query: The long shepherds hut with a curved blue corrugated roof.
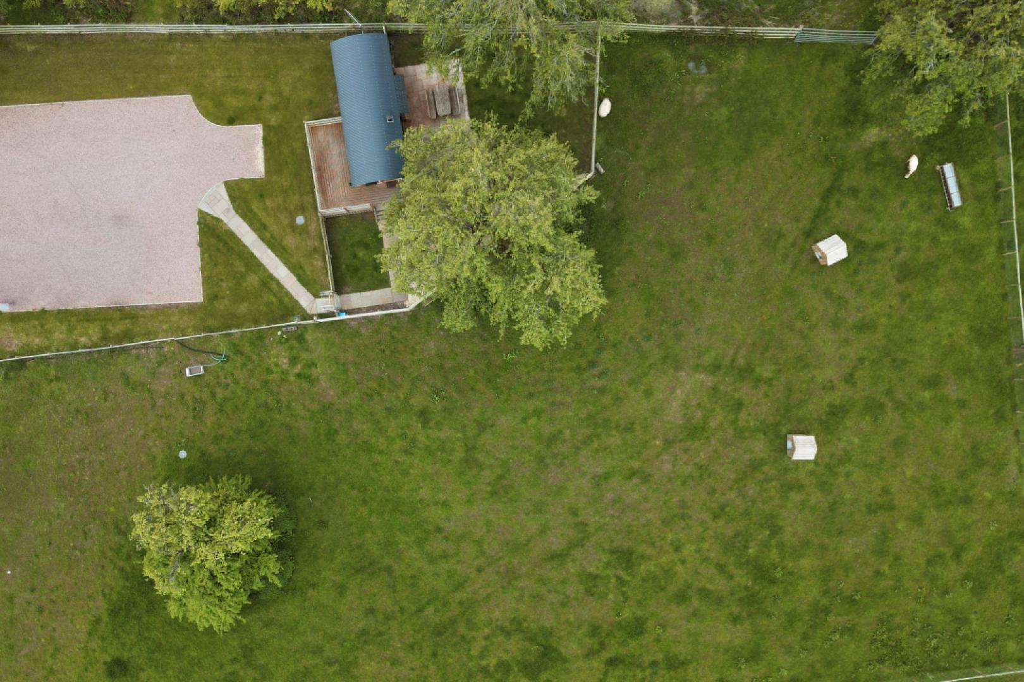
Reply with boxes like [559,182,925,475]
[329,34,409,185]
